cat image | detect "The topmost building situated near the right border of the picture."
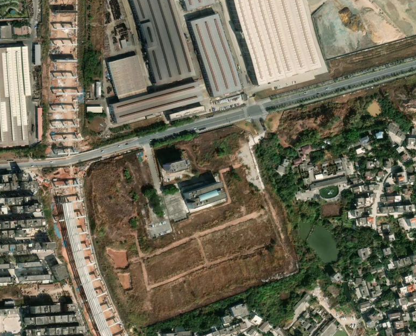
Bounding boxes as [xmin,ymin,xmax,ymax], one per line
[386,122,405,146]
